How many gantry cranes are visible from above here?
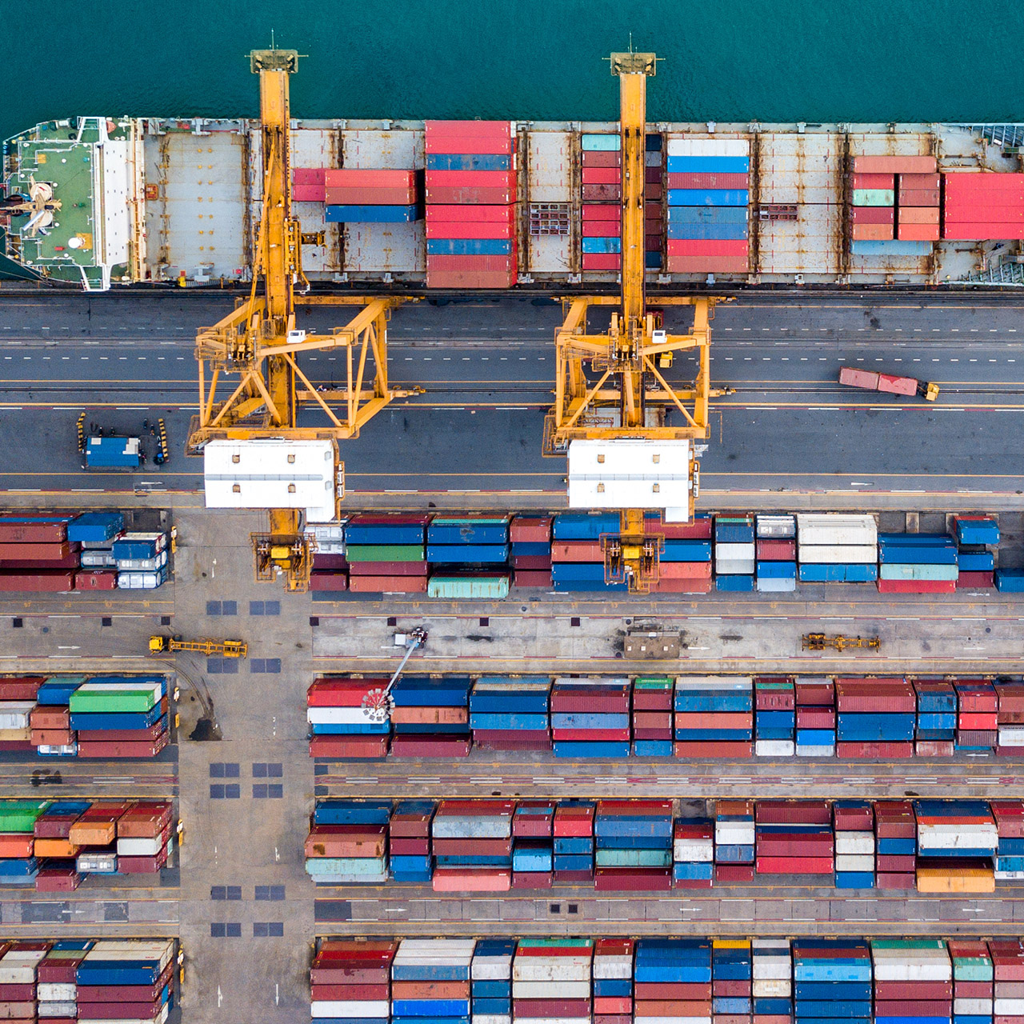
2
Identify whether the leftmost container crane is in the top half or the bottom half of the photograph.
top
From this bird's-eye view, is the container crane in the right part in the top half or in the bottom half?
top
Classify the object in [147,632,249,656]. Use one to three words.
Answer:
truck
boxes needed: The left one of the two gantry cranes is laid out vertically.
[191,33,419,596]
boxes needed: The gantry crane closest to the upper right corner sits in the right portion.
[543,43,735,596]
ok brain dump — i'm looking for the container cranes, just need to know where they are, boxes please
[191,33,419,596]
[543,43,735,596]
